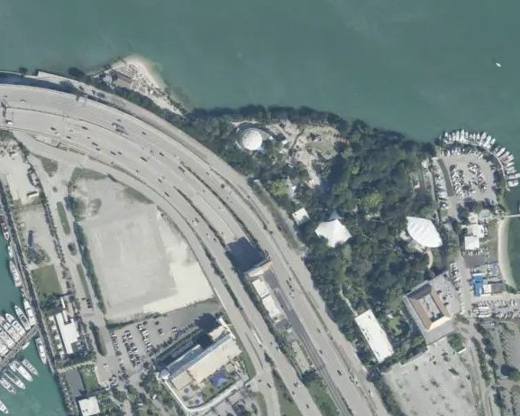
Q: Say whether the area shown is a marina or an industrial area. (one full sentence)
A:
This looks like a marina.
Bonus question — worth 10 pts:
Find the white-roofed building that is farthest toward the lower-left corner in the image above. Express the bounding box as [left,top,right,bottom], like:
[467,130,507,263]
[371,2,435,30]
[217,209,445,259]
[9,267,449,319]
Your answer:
[77,396,100,416]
